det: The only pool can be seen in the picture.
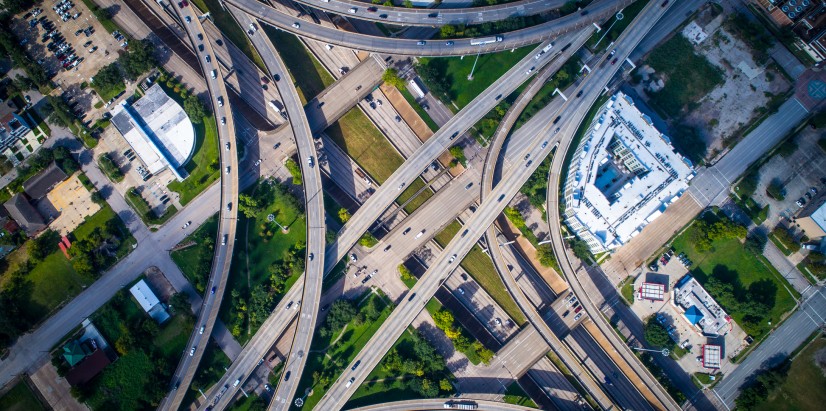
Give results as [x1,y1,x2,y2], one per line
[595,165,620,193]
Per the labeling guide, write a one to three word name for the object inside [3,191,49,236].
house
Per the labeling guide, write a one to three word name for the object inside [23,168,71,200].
house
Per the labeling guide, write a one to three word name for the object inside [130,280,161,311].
shed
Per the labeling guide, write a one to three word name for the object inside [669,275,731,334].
building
